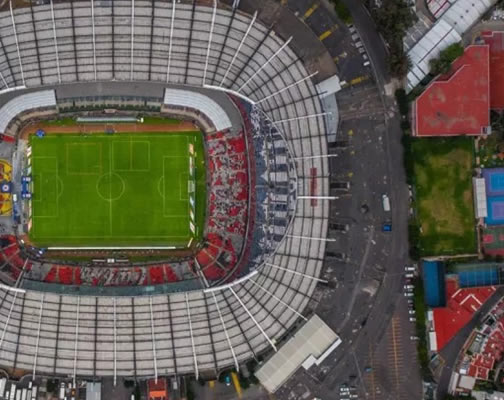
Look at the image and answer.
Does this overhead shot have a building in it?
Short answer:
Yes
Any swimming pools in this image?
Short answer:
No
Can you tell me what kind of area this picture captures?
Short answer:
sports ground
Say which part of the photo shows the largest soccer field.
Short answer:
left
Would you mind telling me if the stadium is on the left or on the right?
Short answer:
left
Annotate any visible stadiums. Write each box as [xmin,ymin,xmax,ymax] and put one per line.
[0,0,338,385]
